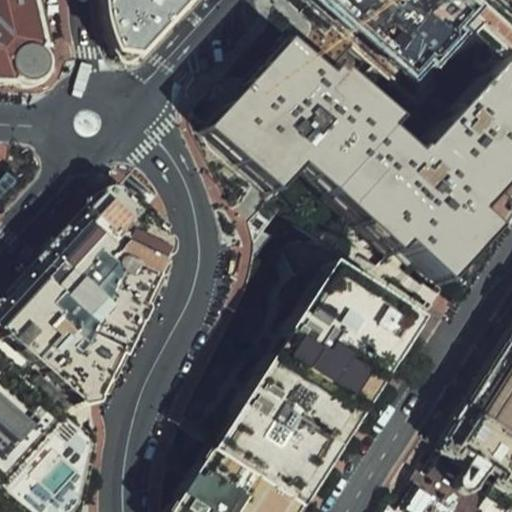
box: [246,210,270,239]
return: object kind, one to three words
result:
building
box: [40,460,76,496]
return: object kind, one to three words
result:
swimming pool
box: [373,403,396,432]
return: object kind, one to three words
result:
truck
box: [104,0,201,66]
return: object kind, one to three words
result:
building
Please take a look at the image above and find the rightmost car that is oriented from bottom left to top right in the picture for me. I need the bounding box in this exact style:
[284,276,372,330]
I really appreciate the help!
[402,396,416,412]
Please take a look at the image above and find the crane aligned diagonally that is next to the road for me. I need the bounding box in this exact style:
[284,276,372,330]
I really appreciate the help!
[263,0,400,94]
